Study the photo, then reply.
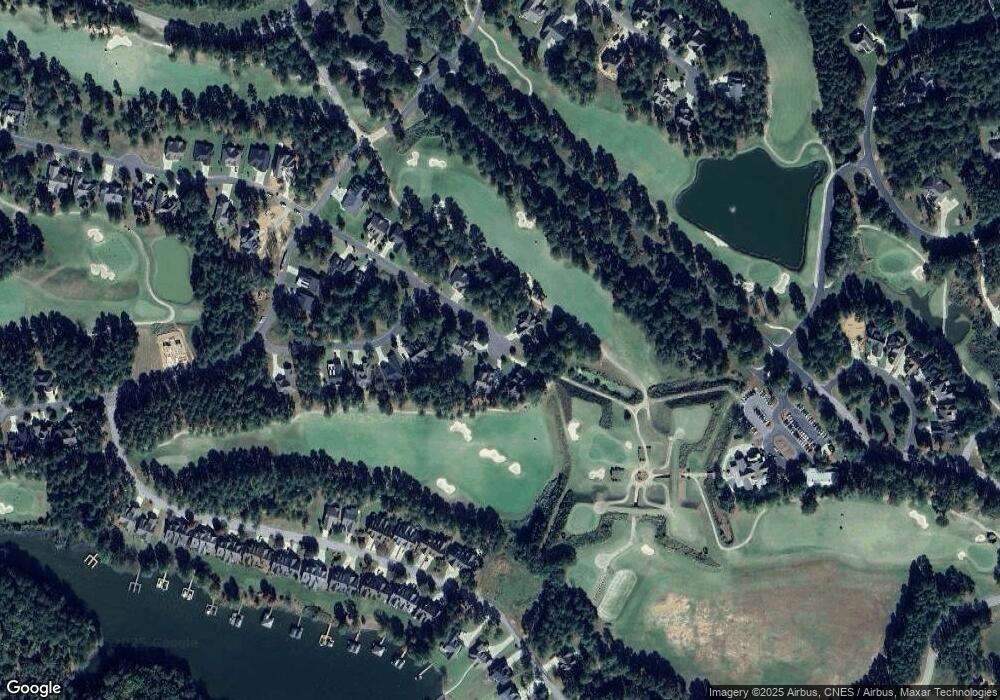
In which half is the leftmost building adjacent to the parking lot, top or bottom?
bottom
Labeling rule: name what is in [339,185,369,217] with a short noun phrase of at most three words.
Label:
house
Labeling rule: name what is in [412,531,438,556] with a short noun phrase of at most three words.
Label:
house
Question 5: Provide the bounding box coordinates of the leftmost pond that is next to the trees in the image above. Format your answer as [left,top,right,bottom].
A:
[152,238,190,301]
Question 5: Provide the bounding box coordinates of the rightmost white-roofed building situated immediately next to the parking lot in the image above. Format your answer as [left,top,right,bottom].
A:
[808,471,833,486]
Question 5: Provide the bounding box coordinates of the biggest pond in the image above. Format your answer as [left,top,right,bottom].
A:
[679,150,825,268]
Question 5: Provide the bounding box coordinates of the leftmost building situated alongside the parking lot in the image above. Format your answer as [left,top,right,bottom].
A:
[728,452,774,488]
